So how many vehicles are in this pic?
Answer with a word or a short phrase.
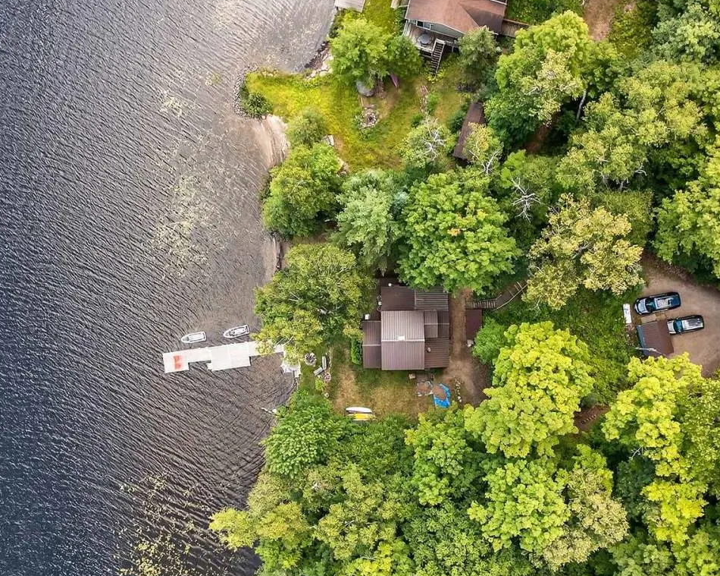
2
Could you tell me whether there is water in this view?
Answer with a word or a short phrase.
Yes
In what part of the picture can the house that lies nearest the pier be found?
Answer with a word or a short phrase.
center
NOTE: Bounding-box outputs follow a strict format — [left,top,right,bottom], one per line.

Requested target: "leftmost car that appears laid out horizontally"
[632,293,681,314]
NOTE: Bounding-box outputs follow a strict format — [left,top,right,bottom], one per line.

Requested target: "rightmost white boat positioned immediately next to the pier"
[224,324,251,337]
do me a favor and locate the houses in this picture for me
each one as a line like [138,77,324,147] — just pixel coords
[400,0,507,75]
[364,274,450,370]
